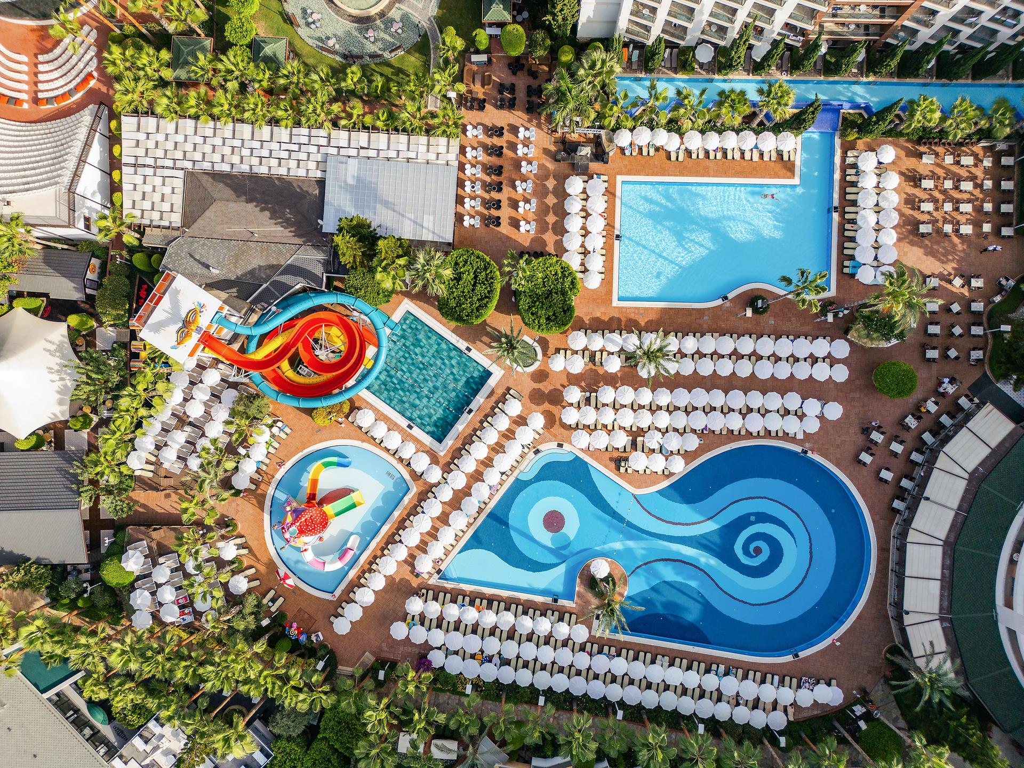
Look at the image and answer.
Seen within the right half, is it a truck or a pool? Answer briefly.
pool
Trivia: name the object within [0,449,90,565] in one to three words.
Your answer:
house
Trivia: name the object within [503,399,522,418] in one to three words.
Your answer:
umbrella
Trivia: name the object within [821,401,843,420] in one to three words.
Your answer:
umbrella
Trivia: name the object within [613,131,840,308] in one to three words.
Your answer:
swimming pool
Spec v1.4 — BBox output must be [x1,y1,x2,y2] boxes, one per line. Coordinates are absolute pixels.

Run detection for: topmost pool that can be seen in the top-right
[614,76,1024,134]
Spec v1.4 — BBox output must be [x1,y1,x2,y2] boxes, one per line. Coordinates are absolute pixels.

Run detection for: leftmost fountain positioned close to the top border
[318,0,401,34]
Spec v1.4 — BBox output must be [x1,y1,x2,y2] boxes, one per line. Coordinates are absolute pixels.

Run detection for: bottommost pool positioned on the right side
[428,439,877,663]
